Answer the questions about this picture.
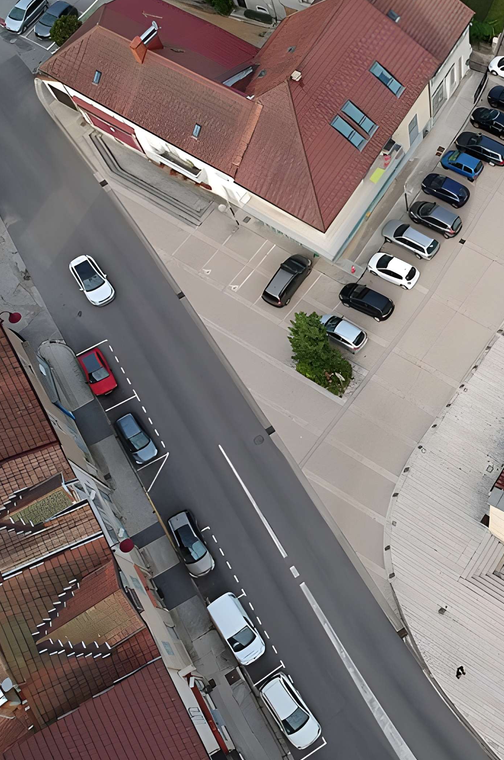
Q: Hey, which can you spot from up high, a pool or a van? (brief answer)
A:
van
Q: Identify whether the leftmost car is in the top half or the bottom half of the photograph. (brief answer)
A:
top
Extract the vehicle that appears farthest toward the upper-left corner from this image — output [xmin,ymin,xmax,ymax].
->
[7,0,51,35]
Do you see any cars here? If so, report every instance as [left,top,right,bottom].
[406,200,464,239]
[74,346,119,398]
[113,410,160,466]
[317,312,372,354]
[68,254,117,307]
[35,0,77,43]
[337,281,398,323]
[487,59,504,81]
[7,0,51,35]
[380,224,444,263]
[469,109,504,140]
[419,176,472,209]
[439,150,486,182]
[259,669,321,751]
[365,254,423,291]
[164,509,216,580]
[454,133,504,167]
[486,91,504,111]
[258,255,314,309]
